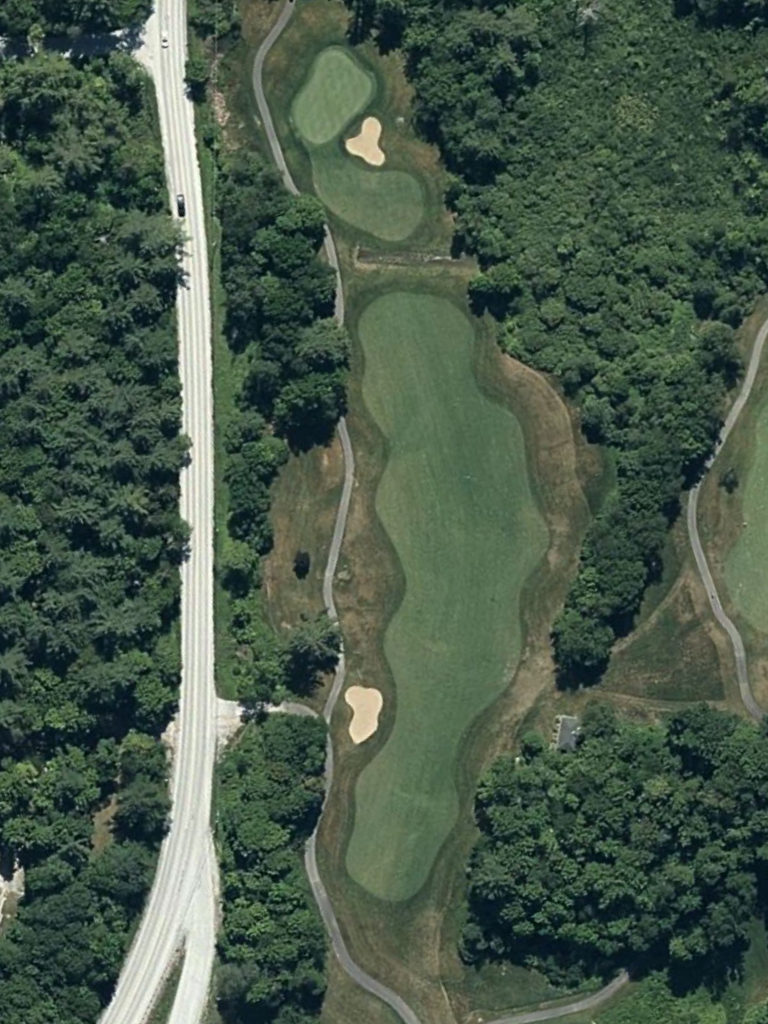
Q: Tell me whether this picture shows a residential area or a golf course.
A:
golf course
